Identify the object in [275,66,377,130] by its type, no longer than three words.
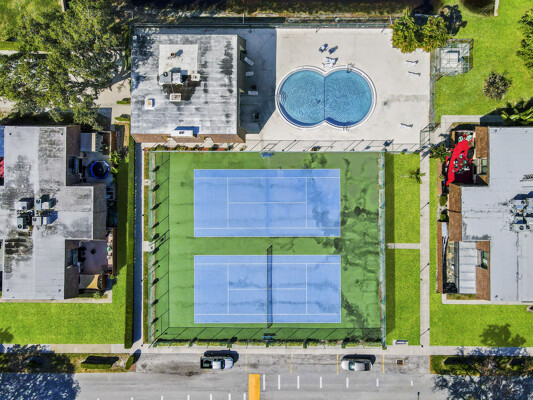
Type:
swimming pool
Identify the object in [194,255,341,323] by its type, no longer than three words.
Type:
tennis court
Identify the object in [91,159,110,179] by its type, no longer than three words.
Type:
trampoline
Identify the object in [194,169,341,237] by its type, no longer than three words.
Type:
tennis court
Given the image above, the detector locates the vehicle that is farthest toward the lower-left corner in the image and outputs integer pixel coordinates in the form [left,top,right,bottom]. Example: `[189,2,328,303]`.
[200,354,234,370]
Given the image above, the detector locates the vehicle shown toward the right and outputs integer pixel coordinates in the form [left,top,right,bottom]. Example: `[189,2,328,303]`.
[341,358,372,373]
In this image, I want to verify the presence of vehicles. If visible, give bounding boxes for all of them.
[200,354,234,370]
[341,358,372,373]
